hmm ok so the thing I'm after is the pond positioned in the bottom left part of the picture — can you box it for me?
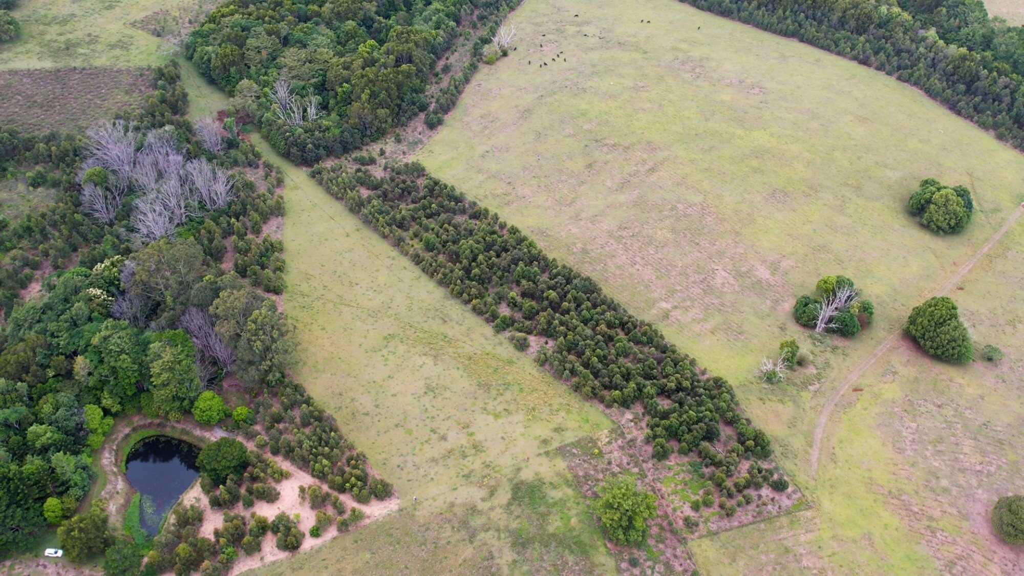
[124,434,204,534]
